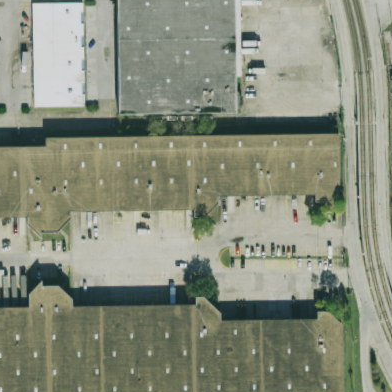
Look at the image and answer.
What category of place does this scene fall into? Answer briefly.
industrial area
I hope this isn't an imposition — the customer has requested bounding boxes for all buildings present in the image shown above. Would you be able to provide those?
[0,134,340,238]
[32,2,86,109]
[118,0,242,116]
[0,281,344,392]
